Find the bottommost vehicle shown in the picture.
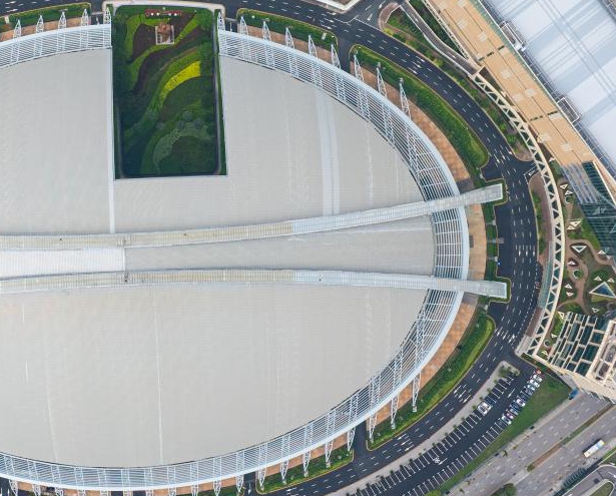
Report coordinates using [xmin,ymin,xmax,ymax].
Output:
[584,438,609,457]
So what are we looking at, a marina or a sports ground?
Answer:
sports ground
